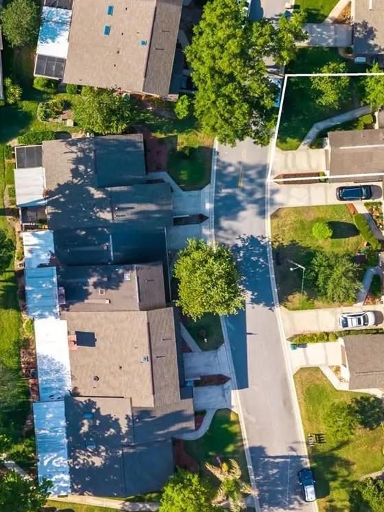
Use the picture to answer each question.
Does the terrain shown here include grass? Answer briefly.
Yes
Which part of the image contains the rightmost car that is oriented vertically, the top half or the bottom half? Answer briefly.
bottom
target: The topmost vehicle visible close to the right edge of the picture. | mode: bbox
[335,185,373,202]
